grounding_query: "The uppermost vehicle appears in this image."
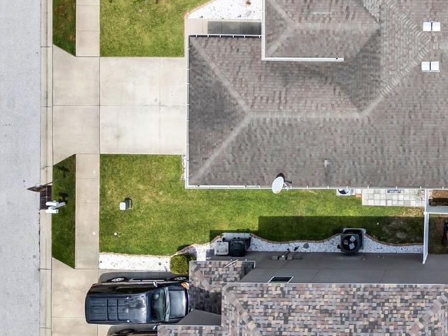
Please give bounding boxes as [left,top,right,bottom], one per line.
[87,275,194,329]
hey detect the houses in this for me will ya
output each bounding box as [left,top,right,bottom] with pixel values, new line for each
[157,252,448,336]
[186,0,448,190]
